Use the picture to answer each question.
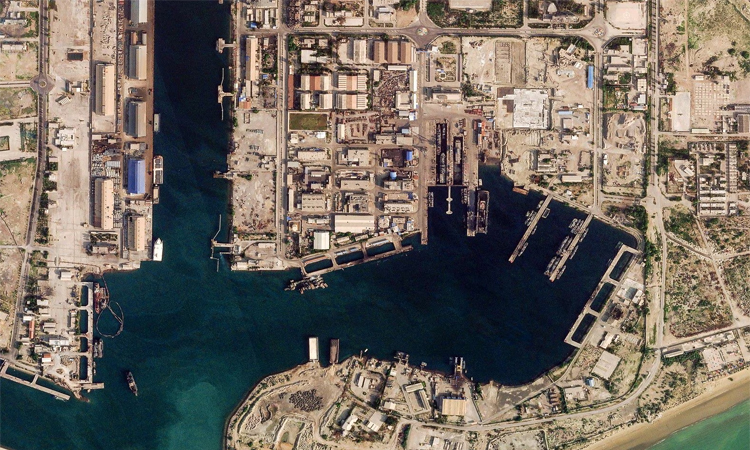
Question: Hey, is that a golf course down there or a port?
port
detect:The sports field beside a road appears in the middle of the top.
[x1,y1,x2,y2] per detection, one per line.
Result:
[289,113,328,130]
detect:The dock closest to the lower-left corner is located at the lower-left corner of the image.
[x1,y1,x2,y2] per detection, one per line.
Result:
[0,363,70,399]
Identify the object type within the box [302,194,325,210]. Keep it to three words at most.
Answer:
building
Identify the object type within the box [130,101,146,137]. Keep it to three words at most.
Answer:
building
